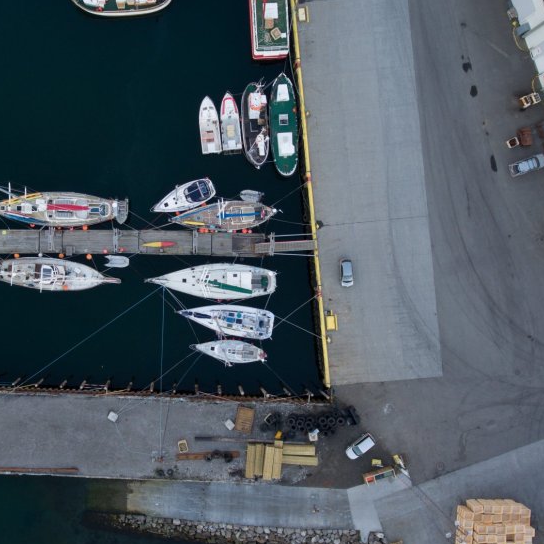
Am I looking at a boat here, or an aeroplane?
boat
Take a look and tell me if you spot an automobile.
Yes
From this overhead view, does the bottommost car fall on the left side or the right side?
right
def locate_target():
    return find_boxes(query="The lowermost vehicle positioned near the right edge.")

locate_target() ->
[511,154,544,175]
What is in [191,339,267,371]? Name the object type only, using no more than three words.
boat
